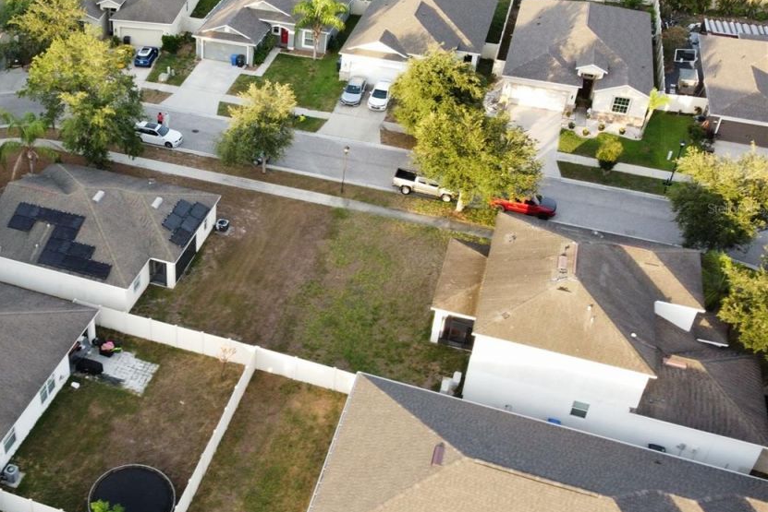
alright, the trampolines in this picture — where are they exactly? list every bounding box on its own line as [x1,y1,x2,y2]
[88,467,176,512]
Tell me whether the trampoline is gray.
No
